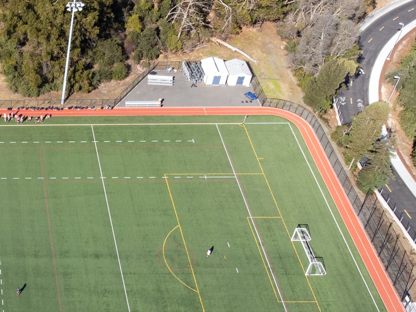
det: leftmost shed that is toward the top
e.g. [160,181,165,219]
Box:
[197,53,230,86]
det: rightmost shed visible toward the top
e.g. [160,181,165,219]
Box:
[226,56,254,88]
